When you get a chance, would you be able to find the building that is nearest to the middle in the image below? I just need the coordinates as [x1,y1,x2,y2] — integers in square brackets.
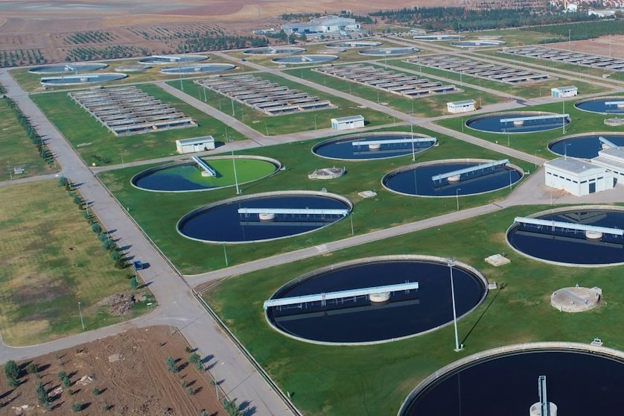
[325,113,364,131]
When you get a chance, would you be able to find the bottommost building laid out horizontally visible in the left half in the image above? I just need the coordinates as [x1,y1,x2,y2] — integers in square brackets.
[170,134,215,154]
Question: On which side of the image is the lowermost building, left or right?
right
